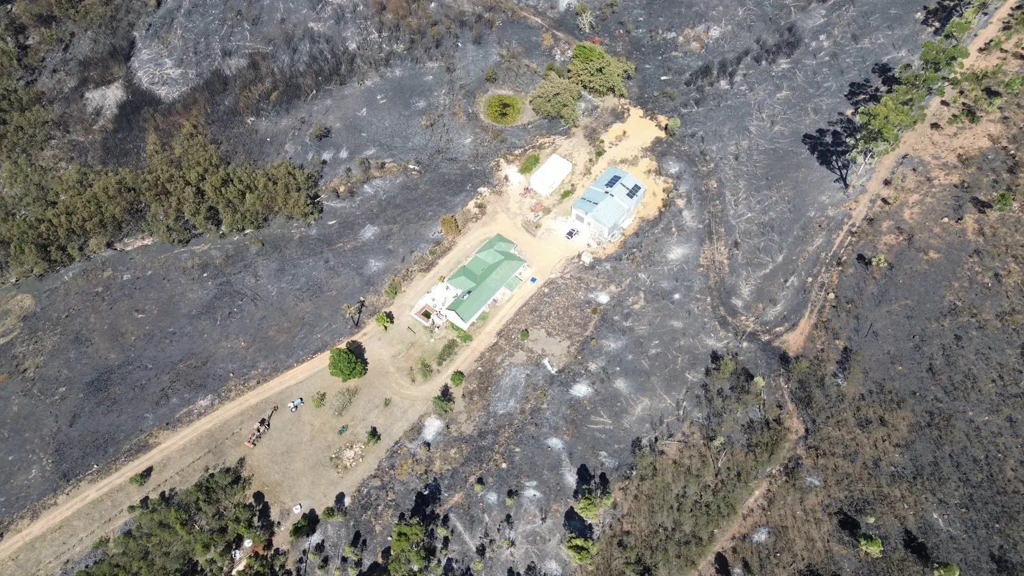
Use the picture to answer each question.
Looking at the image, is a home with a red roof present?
No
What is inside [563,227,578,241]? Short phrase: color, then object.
white vehicle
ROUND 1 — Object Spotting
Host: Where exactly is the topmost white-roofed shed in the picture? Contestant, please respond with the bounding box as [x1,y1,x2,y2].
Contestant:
[530,153,573,193]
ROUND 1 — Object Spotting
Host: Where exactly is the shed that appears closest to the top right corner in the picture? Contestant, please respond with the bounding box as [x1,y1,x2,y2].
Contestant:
[570,165,648,238]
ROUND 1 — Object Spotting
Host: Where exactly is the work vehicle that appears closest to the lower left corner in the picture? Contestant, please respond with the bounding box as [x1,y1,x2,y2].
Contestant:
[246,408,277,448]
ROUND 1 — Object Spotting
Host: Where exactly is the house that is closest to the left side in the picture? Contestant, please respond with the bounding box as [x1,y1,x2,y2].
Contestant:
[446,232,535,331]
